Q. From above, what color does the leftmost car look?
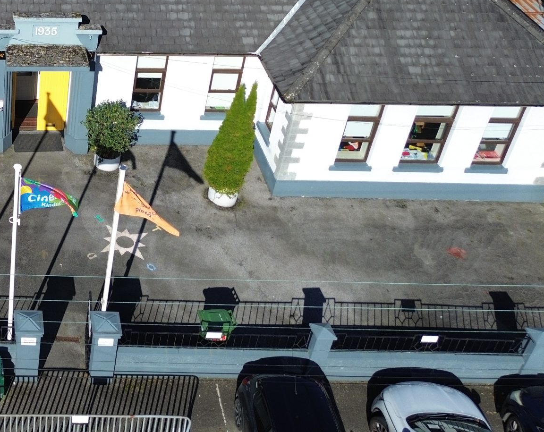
black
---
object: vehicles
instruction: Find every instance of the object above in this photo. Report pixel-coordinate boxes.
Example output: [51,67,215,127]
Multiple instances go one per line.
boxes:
[236,362,354,432]
[367,384,502,432]
[498,386,544,432]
